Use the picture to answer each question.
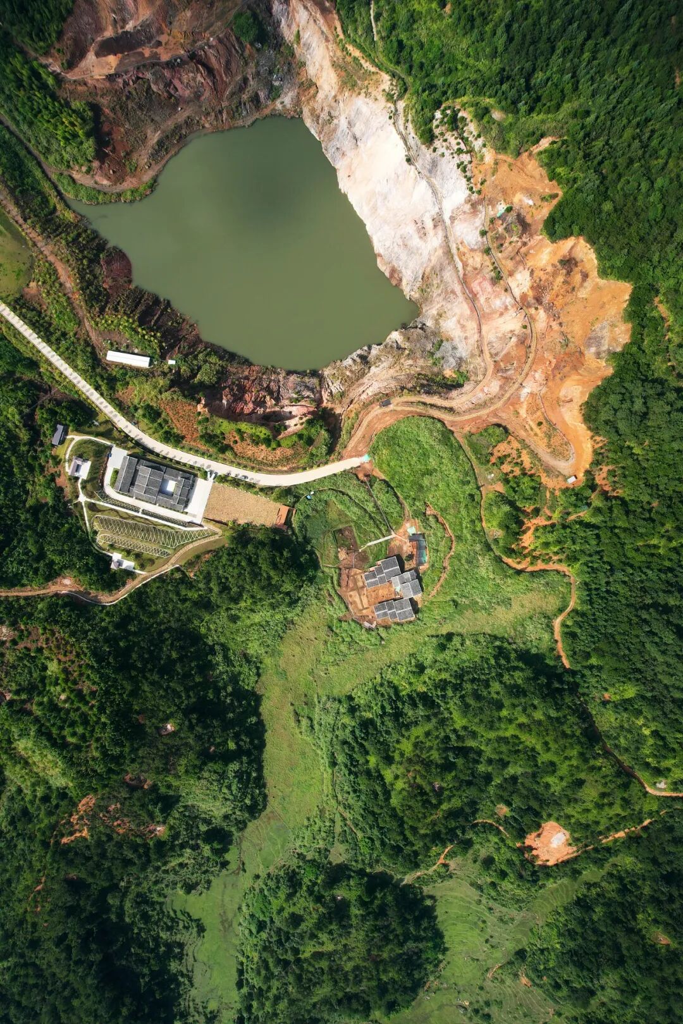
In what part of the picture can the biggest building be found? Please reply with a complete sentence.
The biggest building sits in the left section of the image.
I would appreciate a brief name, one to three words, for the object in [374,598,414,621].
house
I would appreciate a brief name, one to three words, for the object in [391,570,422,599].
house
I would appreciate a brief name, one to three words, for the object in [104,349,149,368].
shed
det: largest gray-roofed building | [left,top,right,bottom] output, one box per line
[114,456,193,510]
